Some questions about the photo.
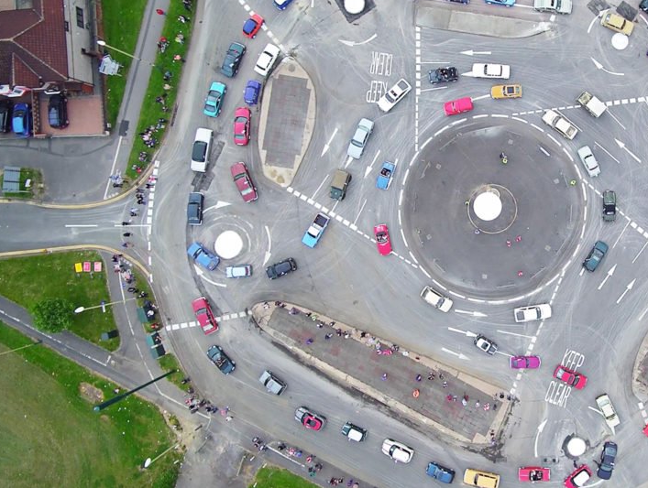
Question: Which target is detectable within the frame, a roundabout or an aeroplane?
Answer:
roundabout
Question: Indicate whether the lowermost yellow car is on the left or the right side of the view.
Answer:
right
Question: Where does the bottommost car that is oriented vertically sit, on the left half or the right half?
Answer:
right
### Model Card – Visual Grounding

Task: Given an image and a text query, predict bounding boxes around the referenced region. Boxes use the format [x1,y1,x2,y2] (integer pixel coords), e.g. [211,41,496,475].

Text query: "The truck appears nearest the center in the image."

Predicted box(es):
[303,210,332,249]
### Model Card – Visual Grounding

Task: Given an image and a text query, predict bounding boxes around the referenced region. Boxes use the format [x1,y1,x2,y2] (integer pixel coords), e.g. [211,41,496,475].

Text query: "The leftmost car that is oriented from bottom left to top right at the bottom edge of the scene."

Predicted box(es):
[562,461,594,488]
